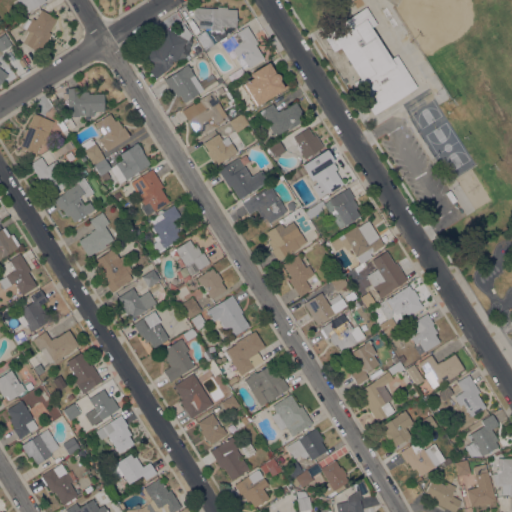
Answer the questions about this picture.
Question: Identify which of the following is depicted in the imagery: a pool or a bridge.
pool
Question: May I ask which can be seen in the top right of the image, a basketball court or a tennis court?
basketball court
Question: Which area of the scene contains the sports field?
top right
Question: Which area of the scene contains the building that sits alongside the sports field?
top right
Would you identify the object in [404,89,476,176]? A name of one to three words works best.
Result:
basketball court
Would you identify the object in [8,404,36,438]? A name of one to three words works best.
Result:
house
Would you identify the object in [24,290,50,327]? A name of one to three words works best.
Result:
house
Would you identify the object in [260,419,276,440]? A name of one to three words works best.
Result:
swimming pool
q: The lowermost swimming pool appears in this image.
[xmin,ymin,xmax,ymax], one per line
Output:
[122,494,146,510]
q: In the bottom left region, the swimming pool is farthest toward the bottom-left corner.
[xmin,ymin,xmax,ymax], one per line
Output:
[54,420,66,444]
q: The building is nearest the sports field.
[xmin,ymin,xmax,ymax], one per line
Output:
[328,6,418,113]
